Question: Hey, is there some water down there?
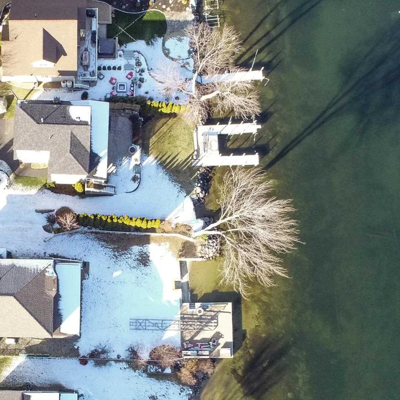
Yes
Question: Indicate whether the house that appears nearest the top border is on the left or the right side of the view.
left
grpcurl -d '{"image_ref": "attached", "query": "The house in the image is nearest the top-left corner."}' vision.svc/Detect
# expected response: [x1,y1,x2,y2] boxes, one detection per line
[1,0,87,83]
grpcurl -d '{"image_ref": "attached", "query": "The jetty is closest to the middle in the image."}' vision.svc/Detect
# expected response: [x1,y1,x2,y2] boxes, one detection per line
[195,117,260,167]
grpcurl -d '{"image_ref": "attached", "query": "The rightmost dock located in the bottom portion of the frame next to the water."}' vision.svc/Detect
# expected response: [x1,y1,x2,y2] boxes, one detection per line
[181,302,235,358]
